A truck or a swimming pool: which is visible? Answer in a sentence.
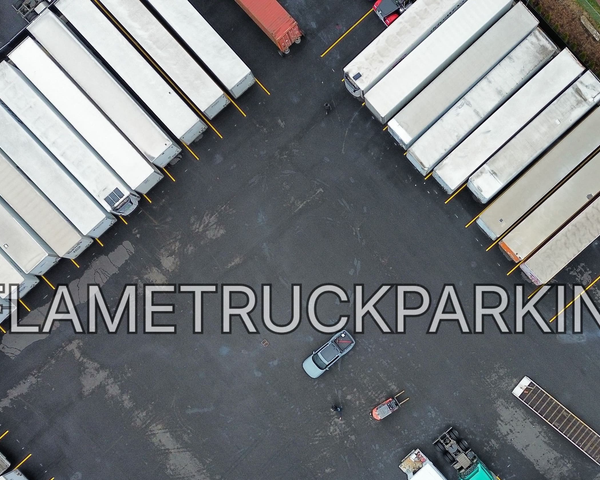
It is a truck that can be seen here.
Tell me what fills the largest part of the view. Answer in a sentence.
The largest share of the image is taken up by paved ground.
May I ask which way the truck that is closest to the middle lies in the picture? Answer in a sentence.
In this picture, the truck that is closest to the middle is oriented at an angle.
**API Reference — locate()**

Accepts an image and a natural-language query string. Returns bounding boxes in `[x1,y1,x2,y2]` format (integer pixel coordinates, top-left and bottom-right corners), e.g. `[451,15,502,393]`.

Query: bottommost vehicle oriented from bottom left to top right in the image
[374,392,409,420]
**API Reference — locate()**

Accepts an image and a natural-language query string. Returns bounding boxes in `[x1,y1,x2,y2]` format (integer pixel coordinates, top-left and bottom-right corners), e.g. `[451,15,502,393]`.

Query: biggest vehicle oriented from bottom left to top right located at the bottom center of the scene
[304,329,355,379]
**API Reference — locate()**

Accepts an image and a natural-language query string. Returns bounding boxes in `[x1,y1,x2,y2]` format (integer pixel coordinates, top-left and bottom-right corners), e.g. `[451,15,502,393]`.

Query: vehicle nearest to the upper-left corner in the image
[10,0,48,24]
